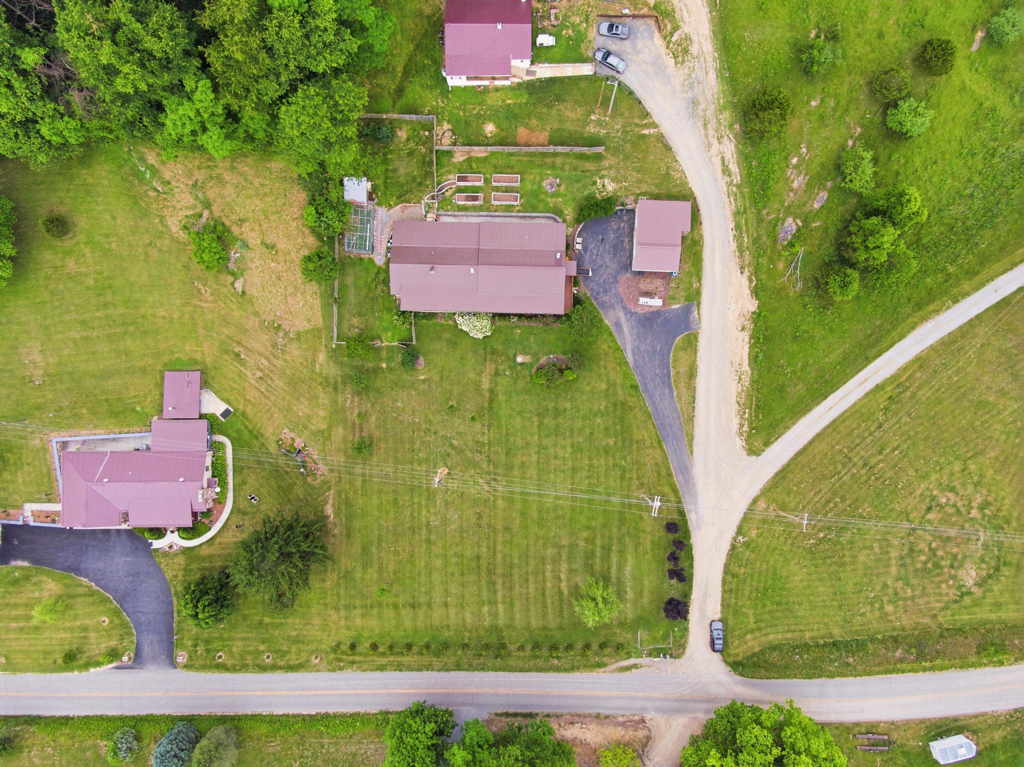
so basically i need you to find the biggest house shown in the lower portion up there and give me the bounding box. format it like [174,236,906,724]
[62,420,234,529]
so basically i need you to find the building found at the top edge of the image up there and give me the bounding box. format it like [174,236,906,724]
[444,0,532,91]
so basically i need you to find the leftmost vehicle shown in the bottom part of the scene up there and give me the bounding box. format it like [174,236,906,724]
[709,619,725,652]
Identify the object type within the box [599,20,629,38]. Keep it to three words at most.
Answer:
car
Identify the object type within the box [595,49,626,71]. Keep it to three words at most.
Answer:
car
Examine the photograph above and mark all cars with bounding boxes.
[709,619,725,652]
[599,20,629,38]
[595,49,626,71]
